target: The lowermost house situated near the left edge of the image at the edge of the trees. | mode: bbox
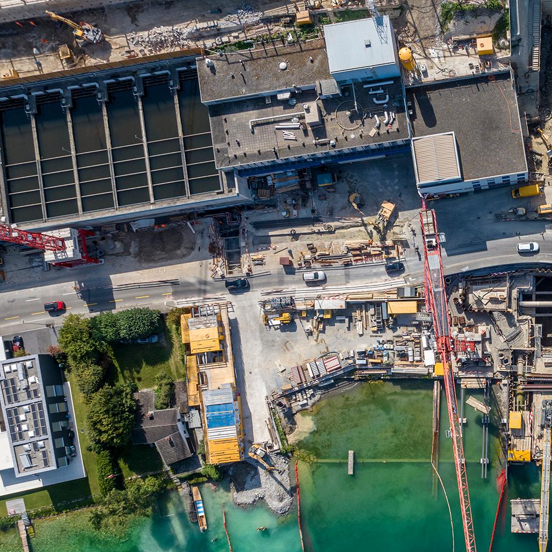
[0,355,87,496]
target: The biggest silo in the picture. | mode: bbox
[399,47,421,81]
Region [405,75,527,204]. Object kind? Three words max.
building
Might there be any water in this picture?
Yes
